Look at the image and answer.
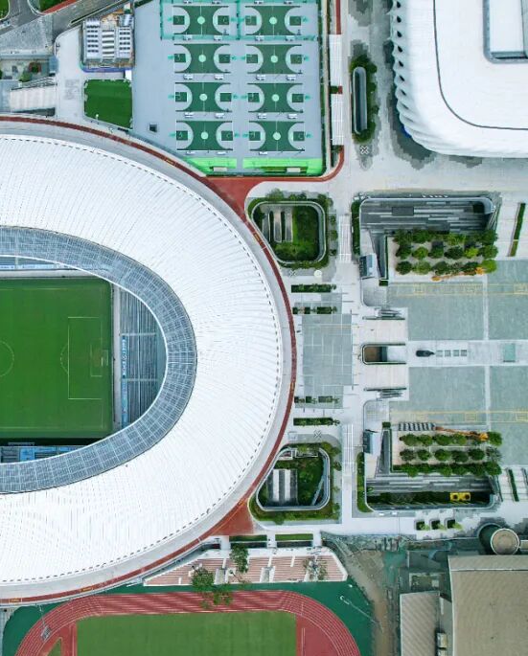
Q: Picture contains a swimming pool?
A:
No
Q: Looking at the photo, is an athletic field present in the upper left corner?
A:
Yes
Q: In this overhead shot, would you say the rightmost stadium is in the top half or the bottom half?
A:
top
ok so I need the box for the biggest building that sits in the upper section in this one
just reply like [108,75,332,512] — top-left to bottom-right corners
[79,3,135,75]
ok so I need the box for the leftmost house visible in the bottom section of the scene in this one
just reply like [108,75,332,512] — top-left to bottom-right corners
[360,429,376,454]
